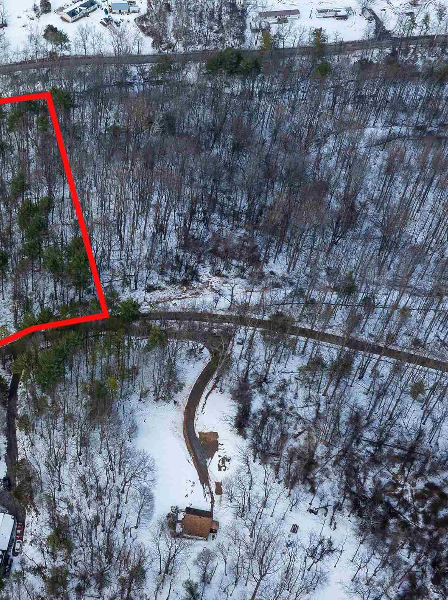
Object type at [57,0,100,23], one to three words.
house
